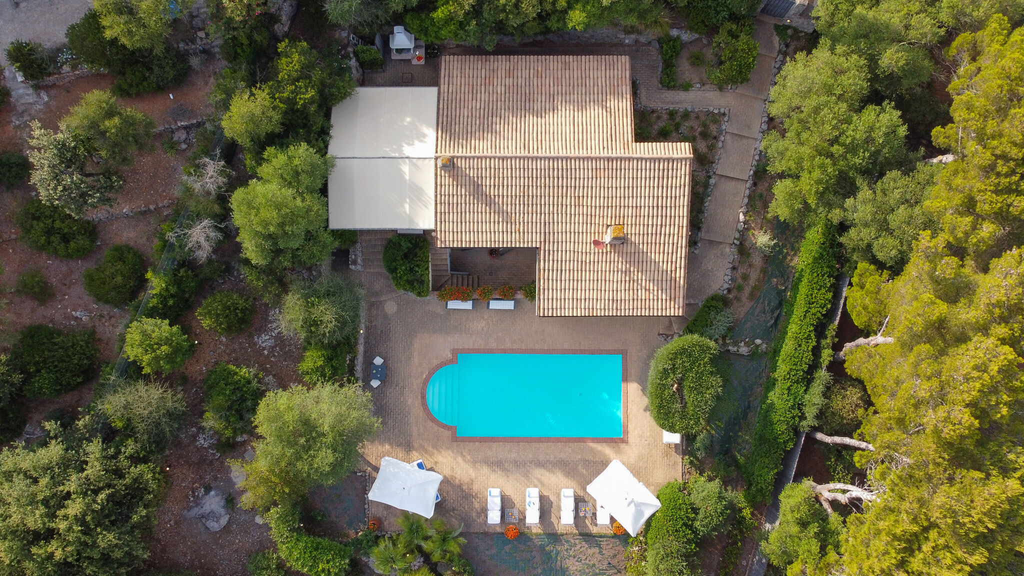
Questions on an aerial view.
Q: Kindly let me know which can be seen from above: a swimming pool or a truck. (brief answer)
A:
swimming pool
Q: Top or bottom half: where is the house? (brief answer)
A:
top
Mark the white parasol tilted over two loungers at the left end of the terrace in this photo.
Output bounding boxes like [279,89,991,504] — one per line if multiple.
[368,456,444,519]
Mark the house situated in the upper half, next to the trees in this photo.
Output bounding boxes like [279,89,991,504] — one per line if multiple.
[434,56,692,317]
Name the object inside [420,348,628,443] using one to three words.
swimming pool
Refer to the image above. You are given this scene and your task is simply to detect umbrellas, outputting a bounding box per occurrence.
[586,460,660,537]
[368,456,444,519]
